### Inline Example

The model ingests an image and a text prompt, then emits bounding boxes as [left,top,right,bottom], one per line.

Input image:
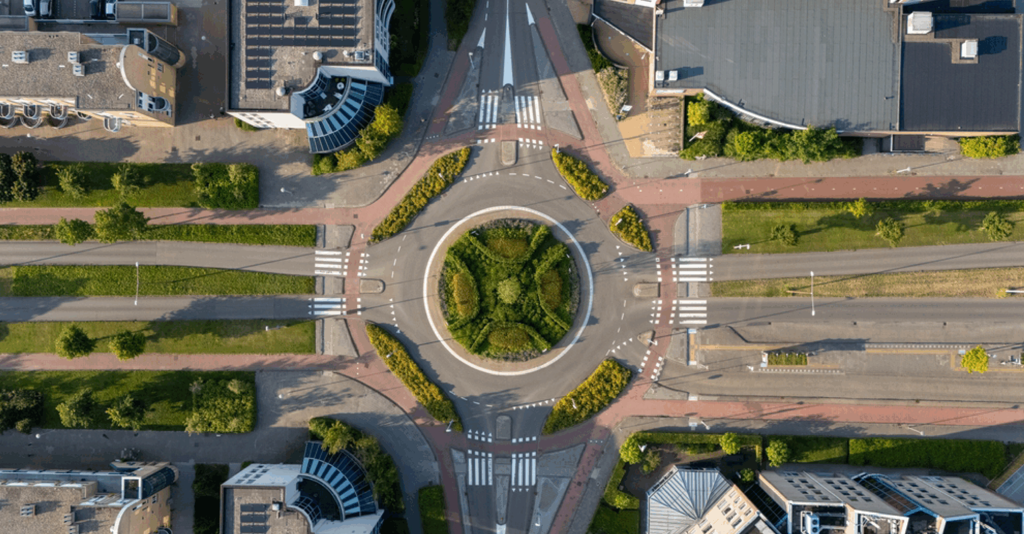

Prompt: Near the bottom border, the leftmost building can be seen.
[0,457,182,534]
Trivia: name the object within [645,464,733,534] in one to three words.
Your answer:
house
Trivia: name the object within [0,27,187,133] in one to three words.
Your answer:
building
